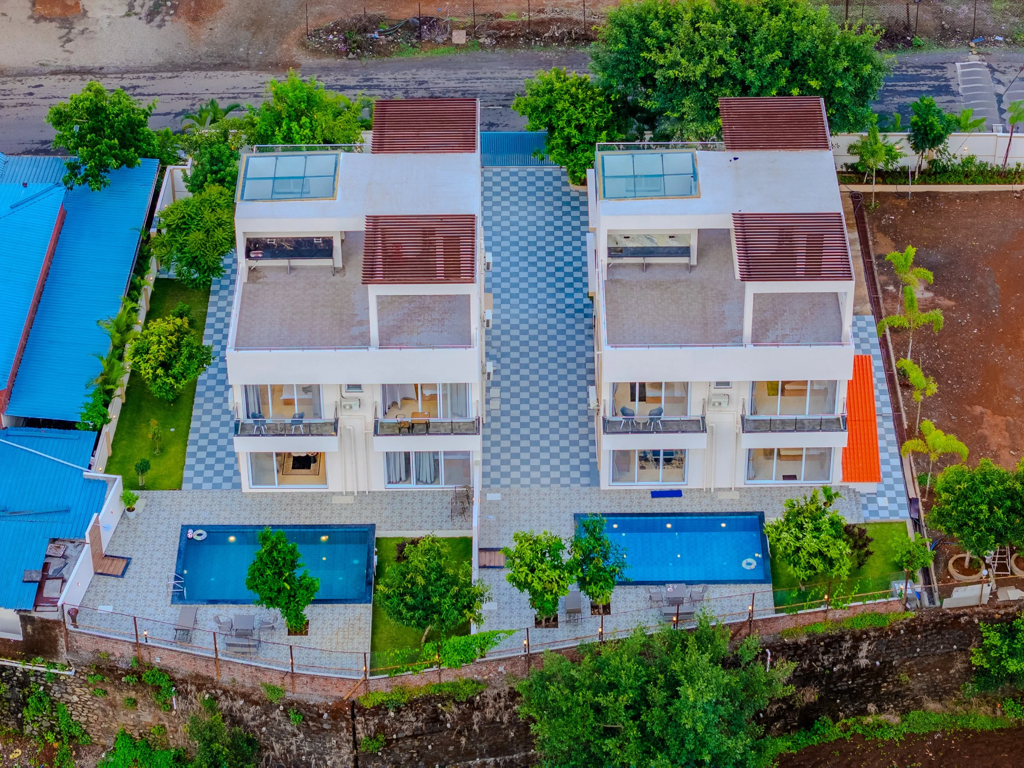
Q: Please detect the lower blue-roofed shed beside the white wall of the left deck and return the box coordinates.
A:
[0,411,107,665]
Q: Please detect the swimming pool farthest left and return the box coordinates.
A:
[171,523,376,606]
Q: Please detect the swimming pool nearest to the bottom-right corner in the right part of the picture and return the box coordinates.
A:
[574,511,772,585]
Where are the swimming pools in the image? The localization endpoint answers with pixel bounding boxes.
[171,523,376,606]
[574,511,772,585]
